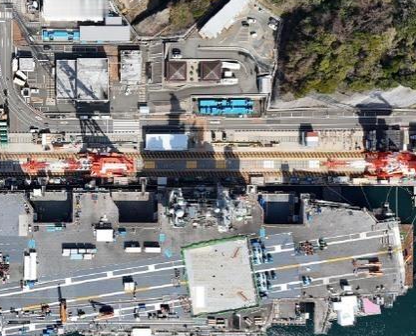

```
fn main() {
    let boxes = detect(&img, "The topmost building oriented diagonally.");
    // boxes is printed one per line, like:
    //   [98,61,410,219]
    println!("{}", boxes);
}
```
[197,0,249,41]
